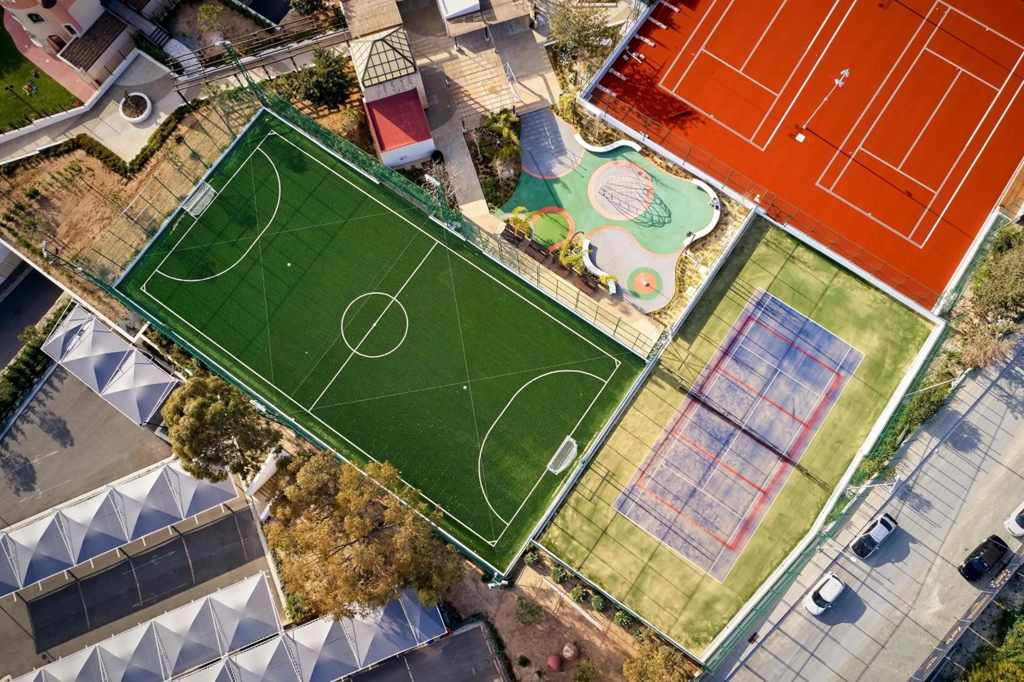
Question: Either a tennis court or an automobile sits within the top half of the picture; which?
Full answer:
Looking within the top half of the picture, you will find a tennis court.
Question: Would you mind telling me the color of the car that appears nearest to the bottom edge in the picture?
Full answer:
The car that appears nearest to the bottom edge looks white in the image.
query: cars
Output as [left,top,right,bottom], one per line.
[849,511,899,560]
[958,534,1011,583]
[800,569,845,618]
[1003,499,1024,536]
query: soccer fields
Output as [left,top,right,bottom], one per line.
[119,111,648,576]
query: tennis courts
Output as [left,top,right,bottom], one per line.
[586,0,914,219]
[537,221,934,656]
[776,0,1024,313]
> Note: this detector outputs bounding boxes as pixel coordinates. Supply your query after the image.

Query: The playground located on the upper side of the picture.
[496,108,715,313]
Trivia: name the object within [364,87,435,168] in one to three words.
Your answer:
building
